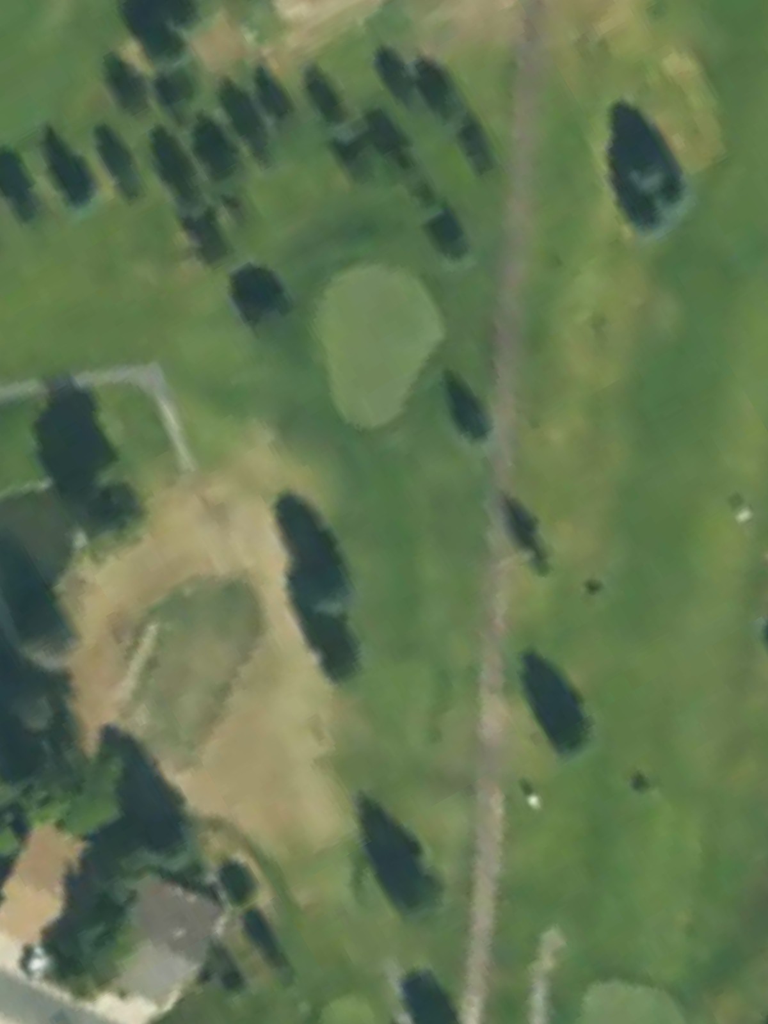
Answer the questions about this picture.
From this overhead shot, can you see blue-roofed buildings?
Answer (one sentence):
No, there isn't any blue-roofed building down there.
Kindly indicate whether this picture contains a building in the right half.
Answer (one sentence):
No, looking in the right half, there is no building.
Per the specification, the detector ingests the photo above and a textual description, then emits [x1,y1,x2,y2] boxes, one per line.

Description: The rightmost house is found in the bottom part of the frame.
[107,873,222,1012]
